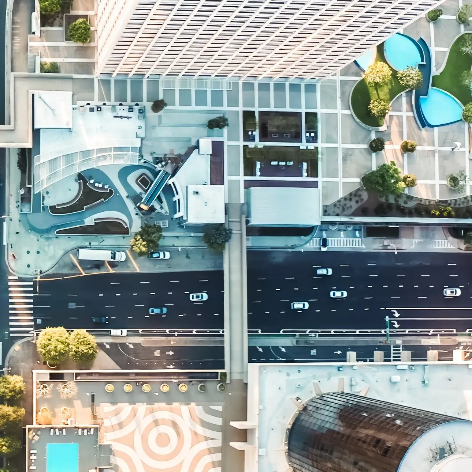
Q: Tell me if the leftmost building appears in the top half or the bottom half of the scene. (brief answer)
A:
top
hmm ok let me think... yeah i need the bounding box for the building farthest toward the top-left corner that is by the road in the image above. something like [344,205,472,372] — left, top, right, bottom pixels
[32,90,146,197]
